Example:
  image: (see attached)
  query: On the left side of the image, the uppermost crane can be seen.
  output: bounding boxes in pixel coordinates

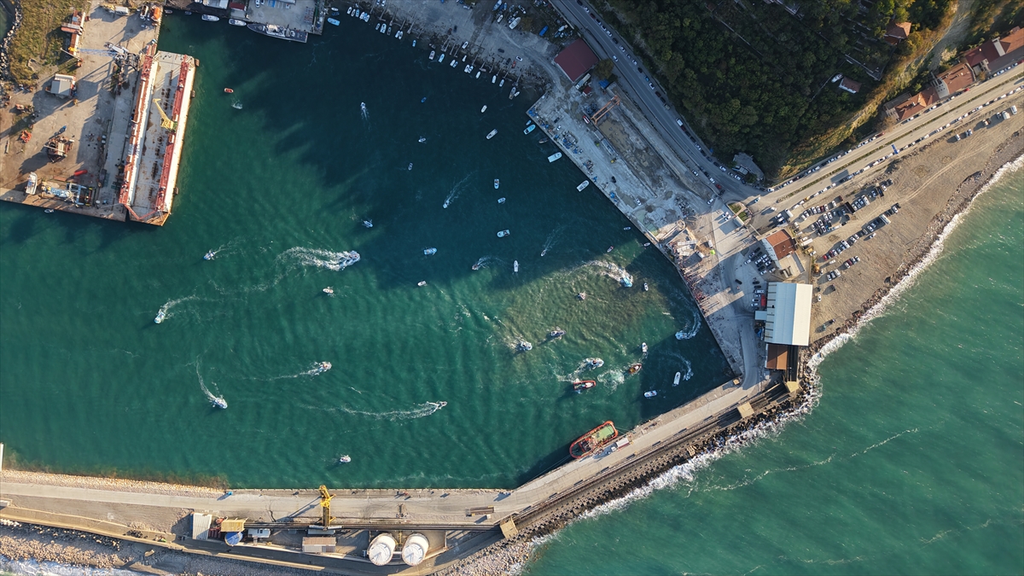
[78,46,140,71]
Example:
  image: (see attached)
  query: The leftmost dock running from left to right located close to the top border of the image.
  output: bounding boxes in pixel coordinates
[229,0,327,37]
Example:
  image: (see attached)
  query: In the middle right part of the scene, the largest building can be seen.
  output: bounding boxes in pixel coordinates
[764,282,813,346]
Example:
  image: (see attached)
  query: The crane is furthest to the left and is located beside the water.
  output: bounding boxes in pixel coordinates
[43,183,88,208]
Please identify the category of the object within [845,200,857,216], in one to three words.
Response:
vehicle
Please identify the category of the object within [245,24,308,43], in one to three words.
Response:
ship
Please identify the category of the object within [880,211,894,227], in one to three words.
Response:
vehicle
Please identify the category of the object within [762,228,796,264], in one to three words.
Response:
building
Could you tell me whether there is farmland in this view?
No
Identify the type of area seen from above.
port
